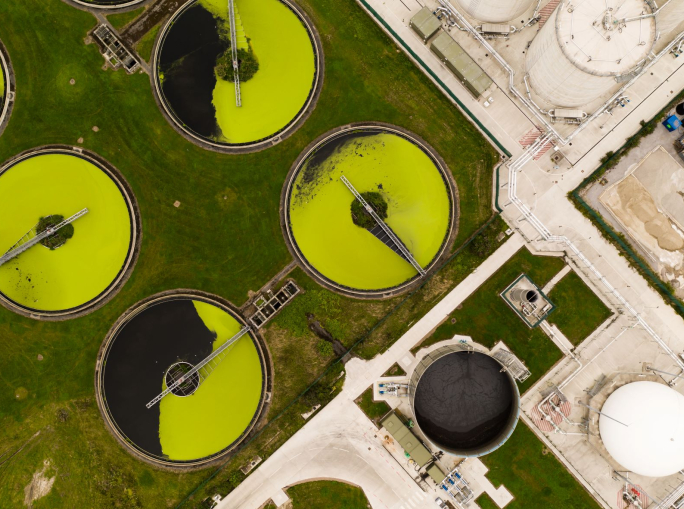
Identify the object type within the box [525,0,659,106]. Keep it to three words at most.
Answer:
storage tank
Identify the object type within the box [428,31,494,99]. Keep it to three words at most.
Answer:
shipping container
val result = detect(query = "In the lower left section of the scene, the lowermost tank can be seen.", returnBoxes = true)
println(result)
[92,289,273,473]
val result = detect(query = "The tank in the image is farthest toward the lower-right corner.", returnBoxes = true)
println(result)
[595,380,684,472]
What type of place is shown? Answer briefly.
industrial area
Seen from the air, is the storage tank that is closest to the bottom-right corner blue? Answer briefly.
No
